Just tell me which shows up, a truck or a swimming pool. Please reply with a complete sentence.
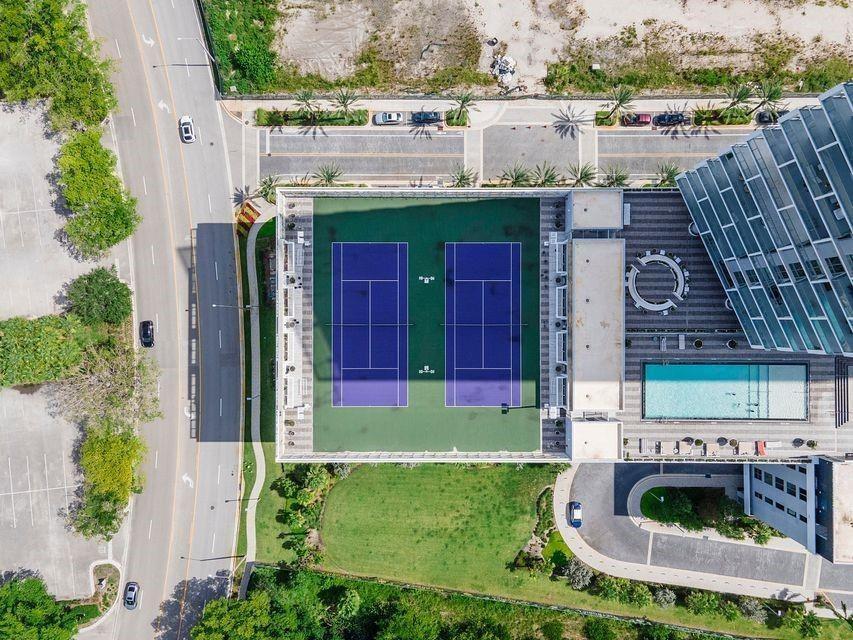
It is a swimming pool that can be seen here.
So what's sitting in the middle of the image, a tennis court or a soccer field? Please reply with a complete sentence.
Visible in the middle of the image is a tennis court.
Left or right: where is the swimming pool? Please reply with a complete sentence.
The swimming pool appears in the right half of the scene.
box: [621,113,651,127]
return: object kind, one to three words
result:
vehicle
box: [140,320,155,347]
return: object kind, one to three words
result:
car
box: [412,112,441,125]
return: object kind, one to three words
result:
vehicle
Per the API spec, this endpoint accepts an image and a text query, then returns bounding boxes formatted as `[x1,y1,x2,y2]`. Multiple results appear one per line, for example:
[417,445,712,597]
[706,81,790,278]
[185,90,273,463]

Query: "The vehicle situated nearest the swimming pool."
[569,501,582,526]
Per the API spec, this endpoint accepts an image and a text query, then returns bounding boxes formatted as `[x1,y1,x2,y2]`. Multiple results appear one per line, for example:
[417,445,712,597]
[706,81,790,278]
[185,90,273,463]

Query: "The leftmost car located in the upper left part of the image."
[180,116,196,144]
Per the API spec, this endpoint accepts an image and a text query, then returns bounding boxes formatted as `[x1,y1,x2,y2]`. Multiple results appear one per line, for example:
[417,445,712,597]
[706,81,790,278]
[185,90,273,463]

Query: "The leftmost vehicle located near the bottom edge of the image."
[124,580,140,609]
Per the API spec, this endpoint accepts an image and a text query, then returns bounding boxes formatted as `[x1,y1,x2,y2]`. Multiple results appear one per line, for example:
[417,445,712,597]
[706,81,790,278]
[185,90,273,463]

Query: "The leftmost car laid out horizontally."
[374,112,403,125]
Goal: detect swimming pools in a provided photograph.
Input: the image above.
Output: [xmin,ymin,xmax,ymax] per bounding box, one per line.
[642,361,810,423]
